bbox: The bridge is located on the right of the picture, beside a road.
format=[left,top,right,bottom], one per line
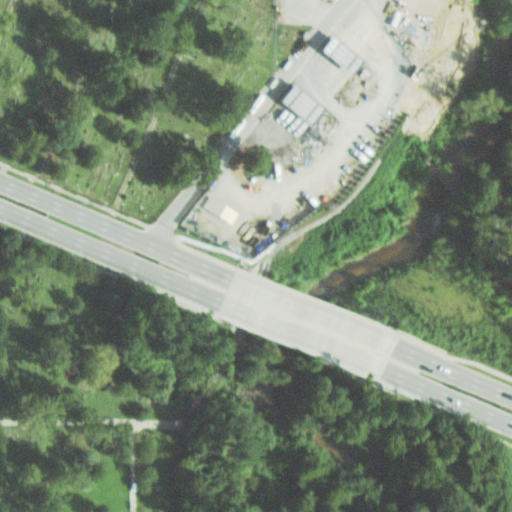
[220,264,410,390]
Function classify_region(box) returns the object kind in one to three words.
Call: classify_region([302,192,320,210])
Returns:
vehicle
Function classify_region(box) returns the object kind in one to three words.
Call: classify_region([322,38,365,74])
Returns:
shed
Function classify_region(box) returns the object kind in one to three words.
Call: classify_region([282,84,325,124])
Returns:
shed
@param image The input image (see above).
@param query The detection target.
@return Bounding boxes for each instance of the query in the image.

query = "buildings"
[322,38,365,74]
[282,84,325,124]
